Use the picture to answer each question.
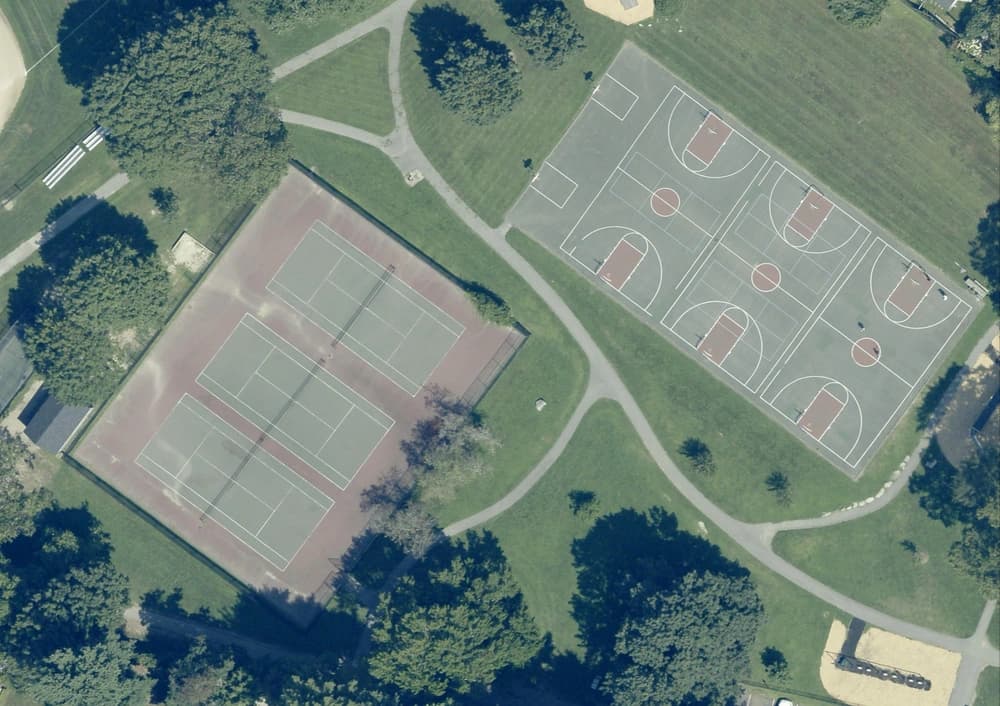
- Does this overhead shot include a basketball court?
Yes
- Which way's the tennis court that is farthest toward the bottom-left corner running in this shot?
at an angle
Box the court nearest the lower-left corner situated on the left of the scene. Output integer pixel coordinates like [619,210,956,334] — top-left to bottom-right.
[136,393,335,571]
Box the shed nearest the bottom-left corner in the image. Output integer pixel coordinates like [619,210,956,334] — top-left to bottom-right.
[24,388,90,453]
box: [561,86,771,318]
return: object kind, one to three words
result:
basketball court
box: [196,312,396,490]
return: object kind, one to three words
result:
tennis court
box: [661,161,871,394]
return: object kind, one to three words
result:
basketball court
